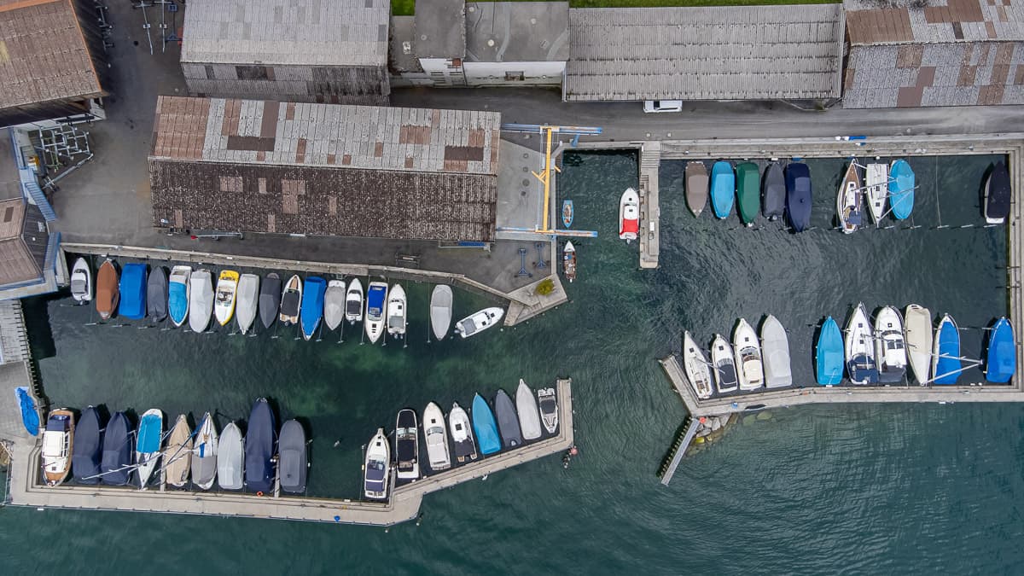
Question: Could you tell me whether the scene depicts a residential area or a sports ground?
residential area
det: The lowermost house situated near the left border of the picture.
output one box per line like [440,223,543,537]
[0,197,61,301]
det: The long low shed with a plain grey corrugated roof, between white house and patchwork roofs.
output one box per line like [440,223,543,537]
[564,4,846,103]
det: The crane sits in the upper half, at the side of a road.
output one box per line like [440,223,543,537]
[497,125,603,242]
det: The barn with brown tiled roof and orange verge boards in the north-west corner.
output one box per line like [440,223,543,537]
[0,0,118,130]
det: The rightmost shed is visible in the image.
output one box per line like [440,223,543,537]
[831,0,1024,109]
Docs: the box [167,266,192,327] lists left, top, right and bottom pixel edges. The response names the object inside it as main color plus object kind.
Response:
blue boat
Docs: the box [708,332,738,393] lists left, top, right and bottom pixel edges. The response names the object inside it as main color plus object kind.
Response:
white boat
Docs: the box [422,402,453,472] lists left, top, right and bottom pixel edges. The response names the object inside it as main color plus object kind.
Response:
white boat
